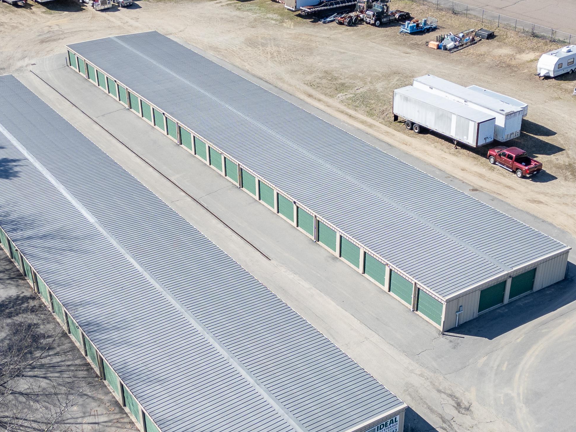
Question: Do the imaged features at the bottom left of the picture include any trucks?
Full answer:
No, I can find no truck at the bottom left of the picture.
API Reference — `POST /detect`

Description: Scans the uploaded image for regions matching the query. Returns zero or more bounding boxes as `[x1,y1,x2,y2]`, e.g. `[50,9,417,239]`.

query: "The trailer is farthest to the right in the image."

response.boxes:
[538,45,576,83]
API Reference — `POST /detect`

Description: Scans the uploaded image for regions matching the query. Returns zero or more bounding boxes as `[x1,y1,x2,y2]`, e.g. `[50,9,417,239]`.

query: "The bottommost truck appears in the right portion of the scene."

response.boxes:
[484,147,545,178]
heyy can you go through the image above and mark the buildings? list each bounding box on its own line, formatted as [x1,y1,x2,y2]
[64,29,573,331]
[0,72,410,432]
